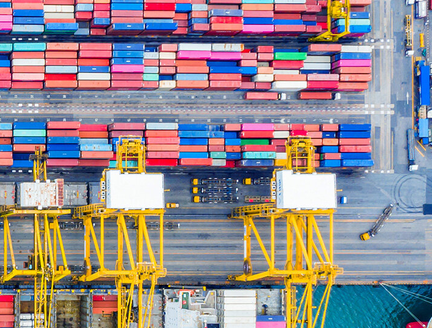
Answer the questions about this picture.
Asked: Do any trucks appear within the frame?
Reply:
Yes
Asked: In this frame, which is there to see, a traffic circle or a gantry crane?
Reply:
gantry crane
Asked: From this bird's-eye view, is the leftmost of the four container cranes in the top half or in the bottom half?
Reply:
bottom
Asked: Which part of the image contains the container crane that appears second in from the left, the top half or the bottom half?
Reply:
bottom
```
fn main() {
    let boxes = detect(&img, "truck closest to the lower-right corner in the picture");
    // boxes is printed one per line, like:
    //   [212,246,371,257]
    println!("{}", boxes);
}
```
[359,206,393,240]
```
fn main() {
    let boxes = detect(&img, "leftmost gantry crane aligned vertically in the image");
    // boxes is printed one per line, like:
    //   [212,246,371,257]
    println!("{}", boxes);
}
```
[0,144,74,328]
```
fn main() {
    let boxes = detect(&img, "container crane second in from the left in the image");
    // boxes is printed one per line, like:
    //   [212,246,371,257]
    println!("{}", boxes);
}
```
[68,140,165,328]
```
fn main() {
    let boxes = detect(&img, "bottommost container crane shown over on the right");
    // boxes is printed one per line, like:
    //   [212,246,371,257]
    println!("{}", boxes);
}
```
[221,139,345,328]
